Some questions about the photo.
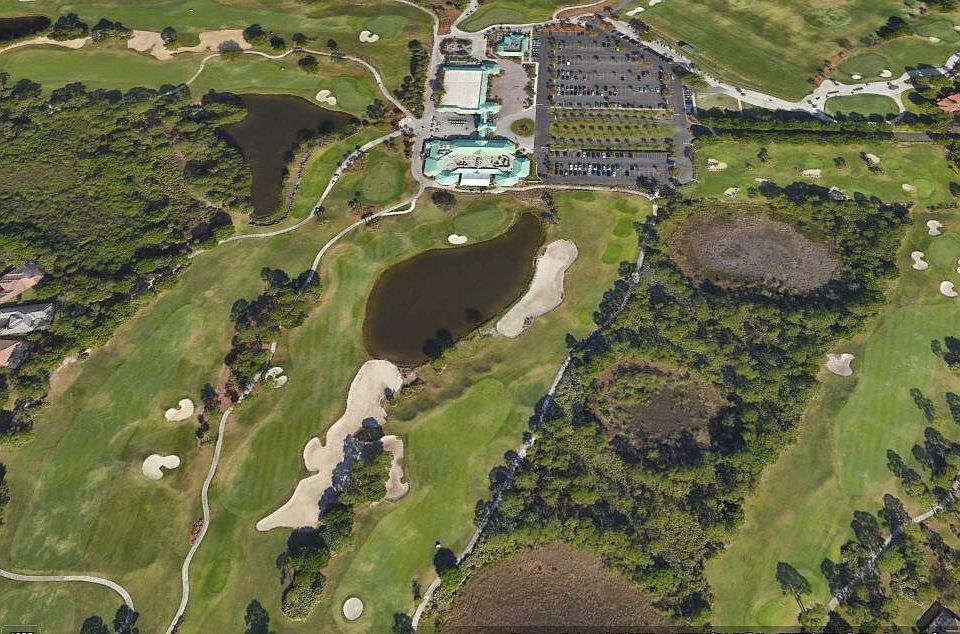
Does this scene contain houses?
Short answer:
Yes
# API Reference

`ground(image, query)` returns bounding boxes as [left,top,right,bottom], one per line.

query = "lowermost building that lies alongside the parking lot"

[424,140,530,192]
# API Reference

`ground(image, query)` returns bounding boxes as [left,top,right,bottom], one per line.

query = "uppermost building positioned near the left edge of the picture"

[0,263,44,308]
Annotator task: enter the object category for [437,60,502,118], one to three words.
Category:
barn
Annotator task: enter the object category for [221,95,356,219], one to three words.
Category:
pond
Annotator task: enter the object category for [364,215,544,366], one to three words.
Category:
pond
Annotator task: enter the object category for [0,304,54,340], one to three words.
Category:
house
